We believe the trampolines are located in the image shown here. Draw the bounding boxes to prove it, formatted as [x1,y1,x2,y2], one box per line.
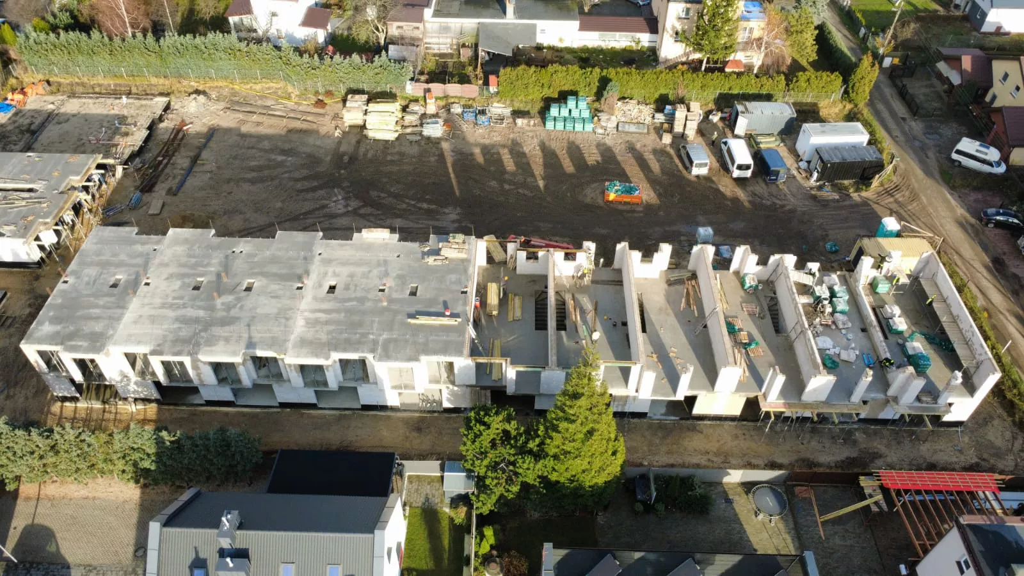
[748,483,792,535]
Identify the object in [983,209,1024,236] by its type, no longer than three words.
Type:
car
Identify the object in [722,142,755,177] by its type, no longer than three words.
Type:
van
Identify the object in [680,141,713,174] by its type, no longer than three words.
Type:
van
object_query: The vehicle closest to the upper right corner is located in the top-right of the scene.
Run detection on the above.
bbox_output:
[952,135,1012,173]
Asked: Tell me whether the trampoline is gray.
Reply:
Yes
